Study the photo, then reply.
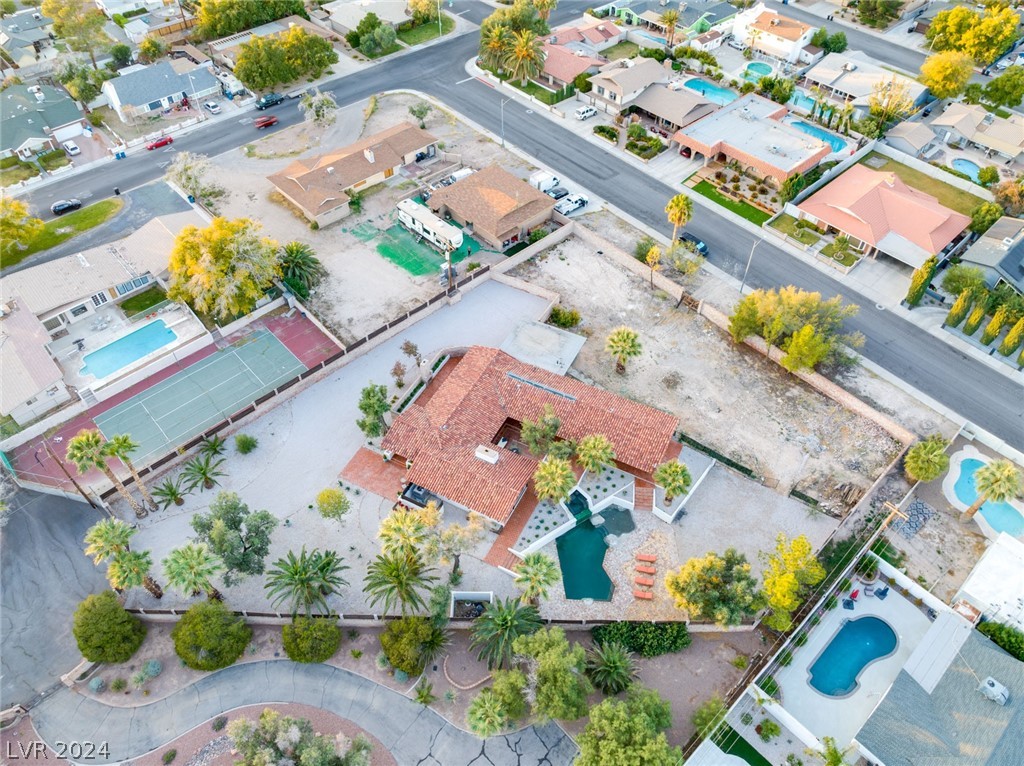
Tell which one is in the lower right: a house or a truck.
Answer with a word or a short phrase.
house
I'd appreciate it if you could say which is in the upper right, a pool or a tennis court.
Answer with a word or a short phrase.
pool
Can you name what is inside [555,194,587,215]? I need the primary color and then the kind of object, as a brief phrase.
white vehicle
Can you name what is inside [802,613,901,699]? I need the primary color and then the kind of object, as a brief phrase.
blue swimming pool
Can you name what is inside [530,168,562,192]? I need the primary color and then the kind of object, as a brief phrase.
white truck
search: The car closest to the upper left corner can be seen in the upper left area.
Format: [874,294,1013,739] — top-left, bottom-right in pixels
[62,140,80,156]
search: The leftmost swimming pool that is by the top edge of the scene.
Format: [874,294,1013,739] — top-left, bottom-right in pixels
[628,29,669,45]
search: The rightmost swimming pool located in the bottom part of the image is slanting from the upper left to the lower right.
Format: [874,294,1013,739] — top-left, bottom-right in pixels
[951,455,1024,540]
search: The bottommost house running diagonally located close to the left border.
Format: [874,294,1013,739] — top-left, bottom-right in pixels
[0,208,221,424]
